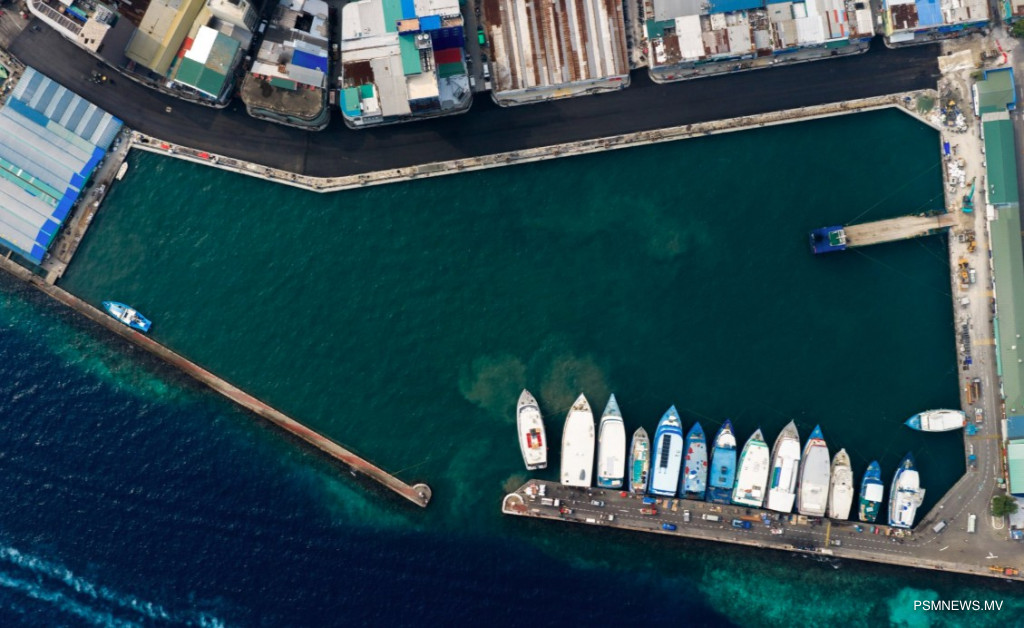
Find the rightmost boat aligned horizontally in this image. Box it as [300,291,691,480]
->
[904,409,967,432]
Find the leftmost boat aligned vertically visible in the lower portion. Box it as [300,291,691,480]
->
[516,389,549,470]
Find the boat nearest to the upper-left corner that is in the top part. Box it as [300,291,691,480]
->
[116,163,129,182]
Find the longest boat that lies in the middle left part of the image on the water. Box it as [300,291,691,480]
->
[101,301,154,331]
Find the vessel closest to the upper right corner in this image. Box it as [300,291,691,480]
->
[808,211,957,256]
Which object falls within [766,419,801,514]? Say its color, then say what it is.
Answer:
white boat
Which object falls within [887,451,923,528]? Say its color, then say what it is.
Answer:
white boat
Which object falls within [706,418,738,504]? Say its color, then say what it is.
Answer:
blue boat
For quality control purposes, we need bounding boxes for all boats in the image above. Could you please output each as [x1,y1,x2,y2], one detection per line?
[857,460,886,522]
[101,301,154,331]
[887,451,923,528]
[733,428,769,506]
[629,426,649,494]
[766,419,801,514]
[798,424,830,515]
[116,163,129,182]
[561,393,596,489]
[516,389,549,470]
[650,405,683,497]
[904,409,967,432]
[681,421,707,500]
[597,393,625,488]
[829,448,853,519]
[706,418,738,504]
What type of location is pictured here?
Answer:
port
